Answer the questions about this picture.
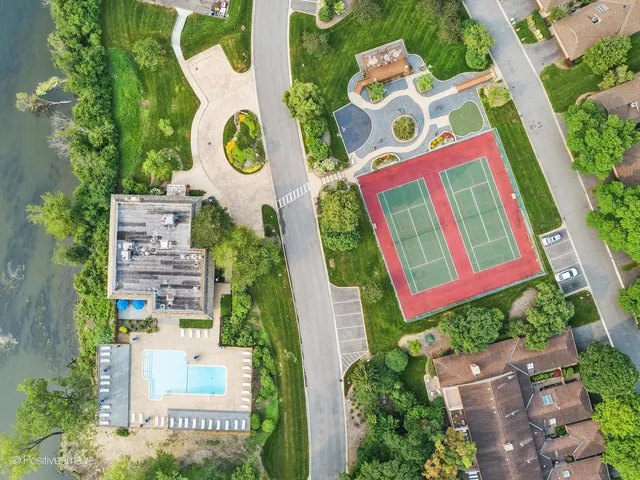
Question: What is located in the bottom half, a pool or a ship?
pool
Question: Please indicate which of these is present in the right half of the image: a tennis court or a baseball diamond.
tennis court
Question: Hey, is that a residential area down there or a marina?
residential area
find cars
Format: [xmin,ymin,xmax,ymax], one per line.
[539,234,562,246]
[554,268,578,281]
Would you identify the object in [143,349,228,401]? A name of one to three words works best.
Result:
swimming pool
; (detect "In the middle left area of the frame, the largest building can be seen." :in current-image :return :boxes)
[109,184,214,320]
